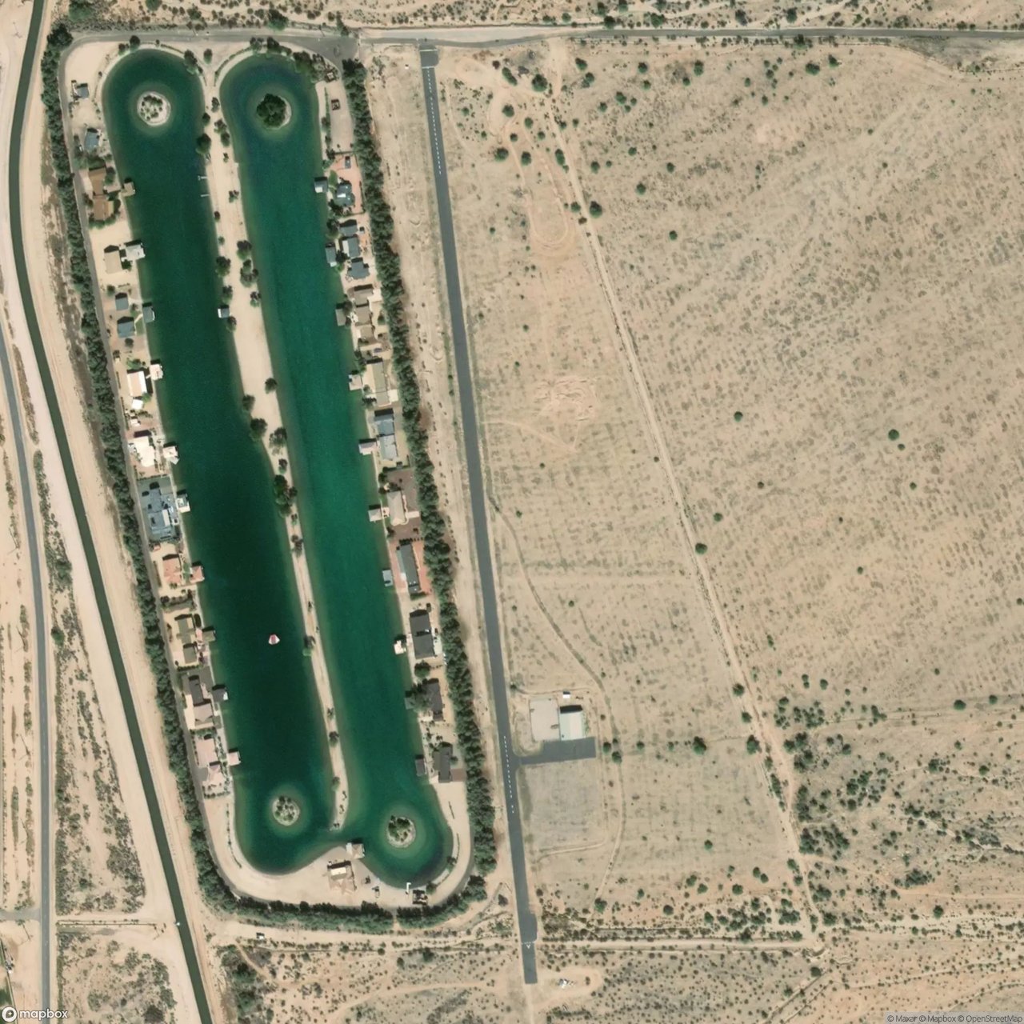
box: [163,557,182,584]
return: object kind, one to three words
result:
house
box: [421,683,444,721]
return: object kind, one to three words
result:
house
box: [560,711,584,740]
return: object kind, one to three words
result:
hangar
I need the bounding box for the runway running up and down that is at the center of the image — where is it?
[419,40,596,984]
